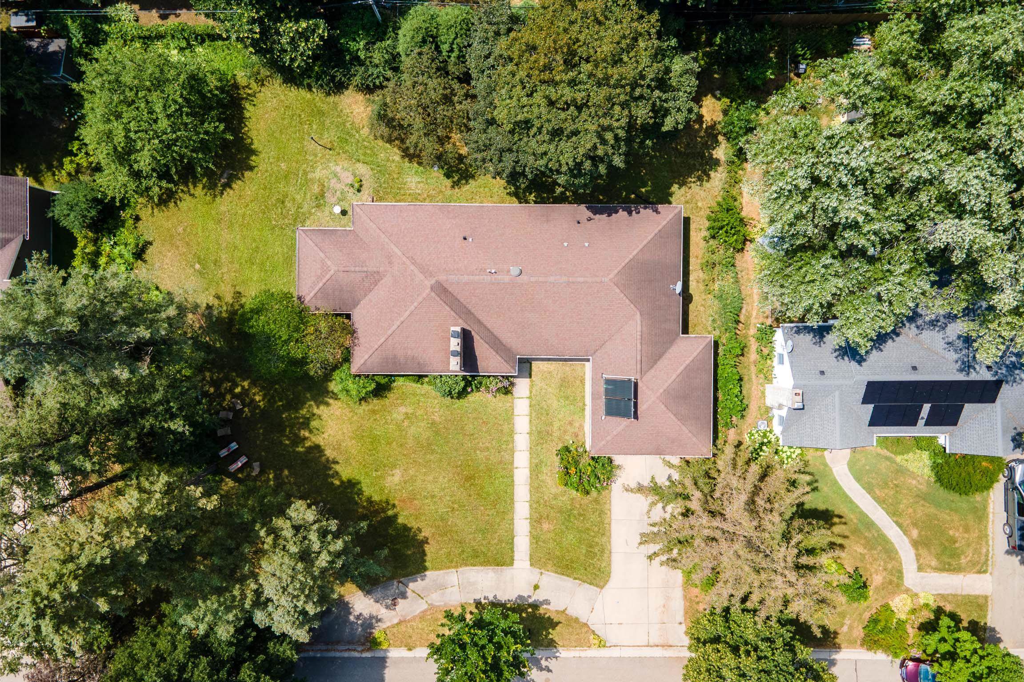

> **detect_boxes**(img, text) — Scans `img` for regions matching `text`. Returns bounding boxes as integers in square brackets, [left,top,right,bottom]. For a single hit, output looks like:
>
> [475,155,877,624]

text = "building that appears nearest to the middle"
[295,202,714,458]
